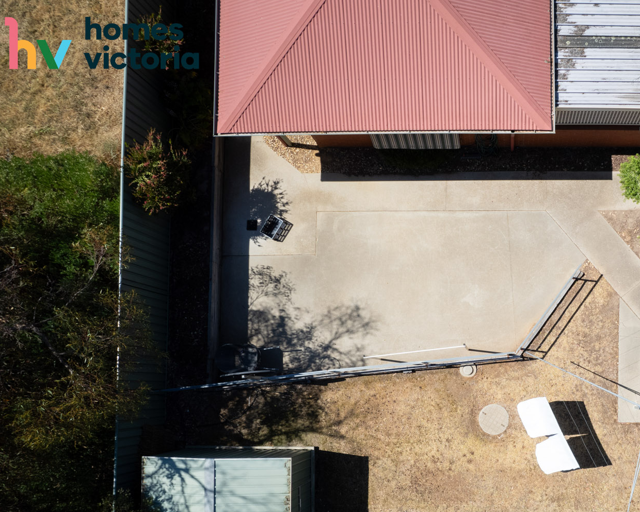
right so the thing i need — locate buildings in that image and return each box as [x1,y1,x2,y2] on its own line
[139,447,317,512]
[214,0,565,151]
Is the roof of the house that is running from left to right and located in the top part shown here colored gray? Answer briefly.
No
